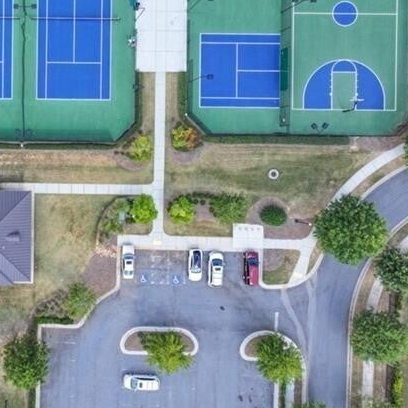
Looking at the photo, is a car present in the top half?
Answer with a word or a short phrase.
No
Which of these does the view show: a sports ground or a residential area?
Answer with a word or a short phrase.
sports ground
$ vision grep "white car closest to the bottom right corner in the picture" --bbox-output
[208,251,225,286]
